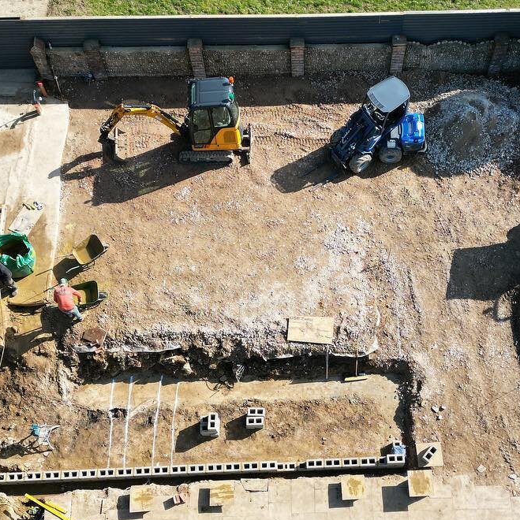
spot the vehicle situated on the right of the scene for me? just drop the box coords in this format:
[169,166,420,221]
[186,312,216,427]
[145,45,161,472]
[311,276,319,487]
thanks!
[297,70,430,198]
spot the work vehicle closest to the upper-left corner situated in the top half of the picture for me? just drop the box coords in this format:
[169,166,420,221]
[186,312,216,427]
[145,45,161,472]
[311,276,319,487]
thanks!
[105,73,259,164]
